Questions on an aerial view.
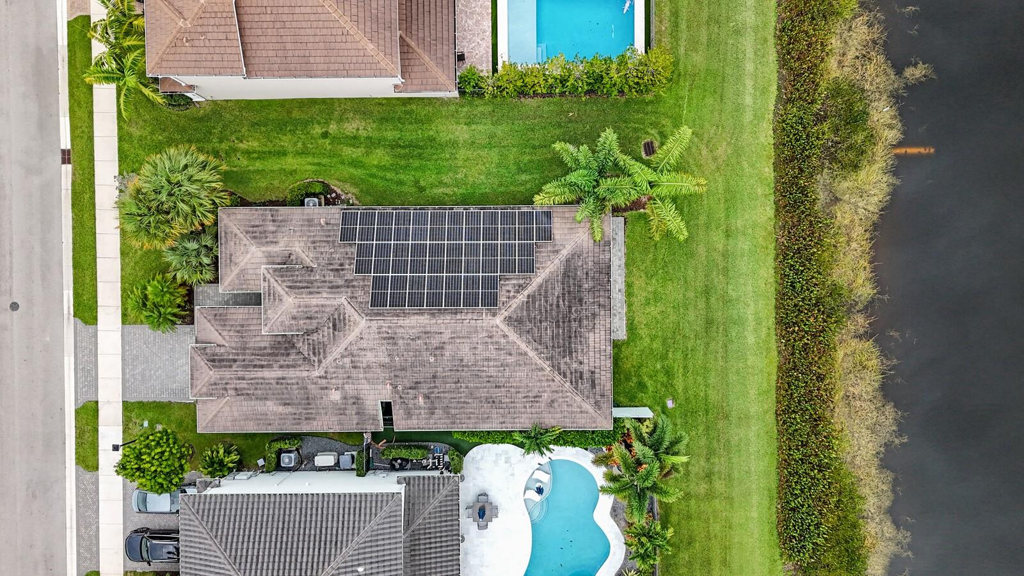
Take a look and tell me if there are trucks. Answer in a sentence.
No, the picture doesn't show any truck.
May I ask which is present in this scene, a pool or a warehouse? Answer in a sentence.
Of the two, only a pool appears.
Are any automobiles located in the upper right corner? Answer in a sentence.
No, no automobile is visible in the upper right corner.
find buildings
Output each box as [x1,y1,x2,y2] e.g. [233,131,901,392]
[144,0,459,105]
[188,205,614,434]
[178,469,462,576]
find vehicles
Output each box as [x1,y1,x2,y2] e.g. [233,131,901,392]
[124,530,178,571]
[131,483,195,520]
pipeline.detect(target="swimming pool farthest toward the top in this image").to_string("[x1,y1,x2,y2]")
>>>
[509,0,635,63]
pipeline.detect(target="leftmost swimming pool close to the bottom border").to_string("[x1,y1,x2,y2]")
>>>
[518,452,616,576]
